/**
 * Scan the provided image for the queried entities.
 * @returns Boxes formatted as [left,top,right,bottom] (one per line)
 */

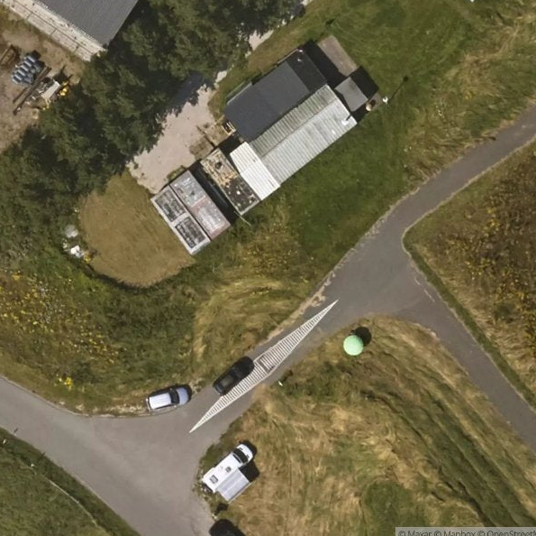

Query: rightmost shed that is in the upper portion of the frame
[335,76,369,113]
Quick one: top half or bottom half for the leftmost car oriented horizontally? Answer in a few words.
bottom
